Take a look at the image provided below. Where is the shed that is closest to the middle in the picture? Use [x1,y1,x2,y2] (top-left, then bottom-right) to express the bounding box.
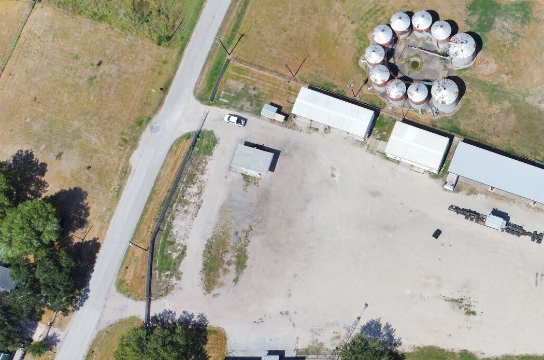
[230,144,275,177]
